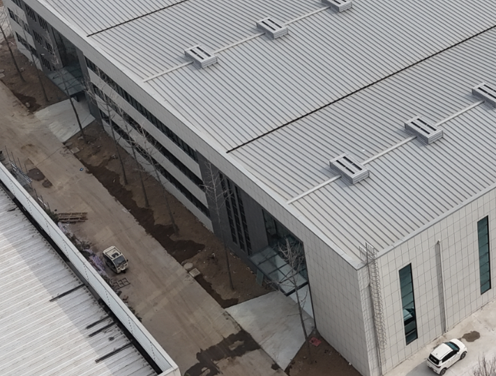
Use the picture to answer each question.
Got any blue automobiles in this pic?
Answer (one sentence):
No, there isn't any blue automobile down there.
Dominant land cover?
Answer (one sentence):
For the most part, this view shows buildings.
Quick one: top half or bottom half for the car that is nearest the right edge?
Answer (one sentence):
The car that is nearest the right edge is in the bottom half of the image.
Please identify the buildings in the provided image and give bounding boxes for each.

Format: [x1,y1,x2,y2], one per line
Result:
[3,0,496,376]
[0,162,178,376]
